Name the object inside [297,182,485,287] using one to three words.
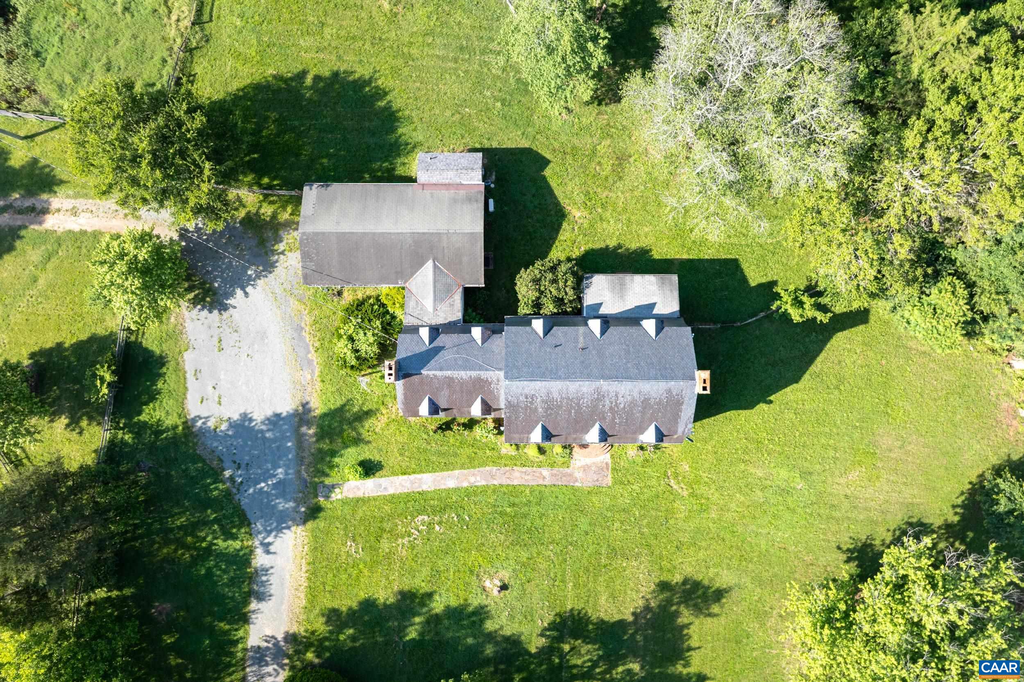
barn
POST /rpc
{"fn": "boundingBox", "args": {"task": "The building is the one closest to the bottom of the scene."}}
[504,315,710,446]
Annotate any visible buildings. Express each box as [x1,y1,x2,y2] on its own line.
[297,182,485,287]
[504,315,710,446]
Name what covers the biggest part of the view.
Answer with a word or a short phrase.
grass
